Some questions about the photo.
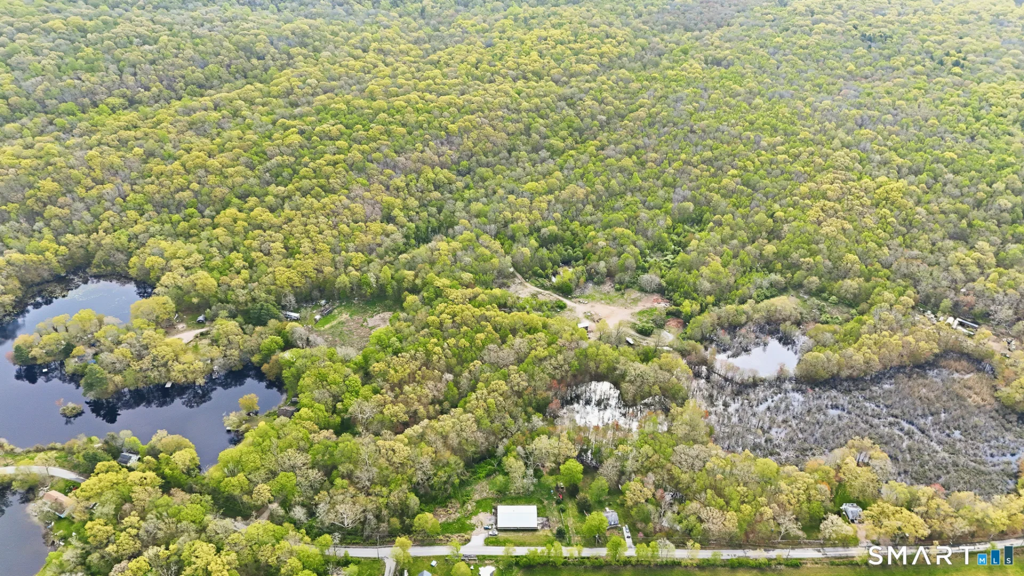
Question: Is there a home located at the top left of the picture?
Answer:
No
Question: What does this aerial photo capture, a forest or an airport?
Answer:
forest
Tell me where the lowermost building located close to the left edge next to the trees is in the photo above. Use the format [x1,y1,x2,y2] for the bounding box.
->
[39,491,74,517]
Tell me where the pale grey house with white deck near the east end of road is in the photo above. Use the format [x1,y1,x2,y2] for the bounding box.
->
[841,503,863,523]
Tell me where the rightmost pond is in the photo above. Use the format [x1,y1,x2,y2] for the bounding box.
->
[701,323,838,388]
